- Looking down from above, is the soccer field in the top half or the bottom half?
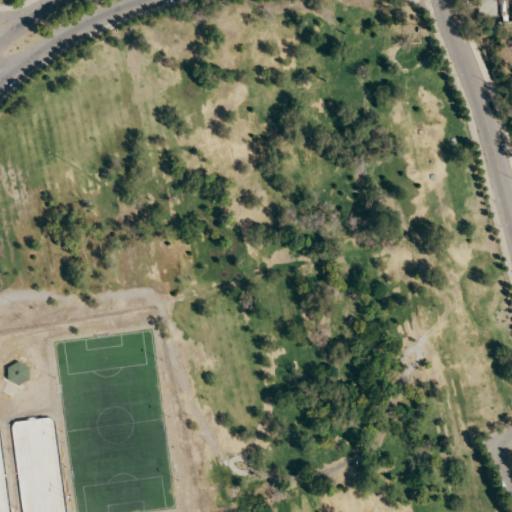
bottom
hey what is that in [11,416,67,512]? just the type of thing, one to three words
building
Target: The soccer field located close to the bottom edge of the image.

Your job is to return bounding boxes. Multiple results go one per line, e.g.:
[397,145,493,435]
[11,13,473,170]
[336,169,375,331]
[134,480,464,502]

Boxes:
[54,330,176,512]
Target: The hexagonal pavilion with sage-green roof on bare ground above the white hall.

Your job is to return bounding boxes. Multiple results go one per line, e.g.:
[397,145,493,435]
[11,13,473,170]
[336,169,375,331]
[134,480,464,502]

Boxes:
[8,360,30,385]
